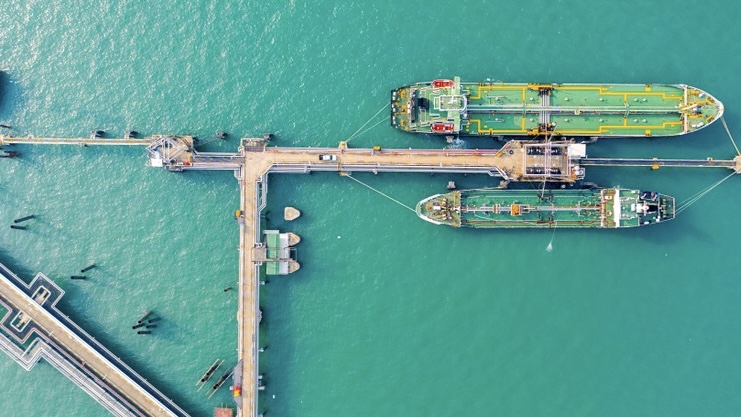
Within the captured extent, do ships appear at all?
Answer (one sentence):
Yes, I can see a ship in this picture.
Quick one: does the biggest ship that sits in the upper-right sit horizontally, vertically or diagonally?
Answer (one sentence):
Seen from above, the biggest ship that sits in the upper-right lies horizontally.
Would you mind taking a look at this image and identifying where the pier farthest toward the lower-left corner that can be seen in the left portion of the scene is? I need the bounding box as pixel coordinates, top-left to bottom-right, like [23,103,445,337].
[0,264,195,417]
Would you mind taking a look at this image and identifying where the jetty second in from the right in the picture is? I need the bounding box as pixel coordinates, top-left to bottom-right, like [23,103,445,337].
[229,138,273,417]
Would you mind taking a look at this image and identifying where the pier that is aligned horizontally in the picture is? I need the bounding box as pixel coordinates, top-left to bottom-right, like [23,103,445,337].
[261,145,499,177]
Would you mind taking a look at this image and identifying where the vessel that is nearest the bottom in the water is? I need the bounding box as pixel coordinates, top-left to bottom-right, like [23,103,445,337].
[417,189,674,228]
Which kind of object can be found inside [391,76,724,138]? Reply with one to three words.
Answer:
ship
